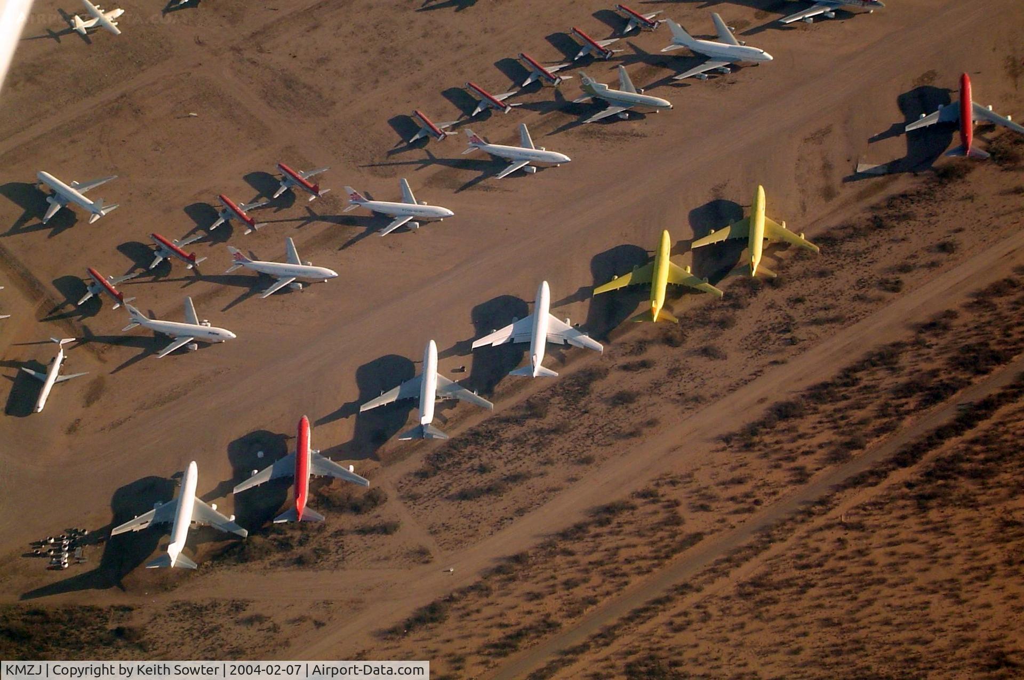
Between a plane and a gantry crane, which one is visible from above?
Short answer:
plane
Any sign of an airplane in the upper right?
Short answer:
Yes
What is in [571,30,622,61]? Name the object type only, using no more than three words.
airplane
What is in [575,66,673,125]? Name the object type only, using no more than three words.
airplane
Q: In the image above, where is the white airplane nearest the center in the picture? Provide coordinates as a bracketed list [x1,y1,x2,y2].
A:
[473,282,603,378]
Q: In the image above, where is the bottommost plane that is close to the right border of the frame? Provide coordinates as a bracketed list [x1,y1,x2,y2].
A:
[906,75,1024,156]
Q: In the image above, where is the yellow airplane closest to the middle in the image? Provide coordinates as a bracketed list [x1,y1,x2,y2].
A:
[595,231,723,324]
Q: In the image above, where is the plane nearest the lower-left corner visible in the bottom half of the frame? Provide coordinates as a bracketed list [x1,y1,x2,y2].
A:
[110,461,248,570]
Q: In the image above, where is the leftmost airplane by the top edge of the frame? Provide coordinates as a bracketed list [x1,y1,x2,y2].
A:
[72,0,126,35]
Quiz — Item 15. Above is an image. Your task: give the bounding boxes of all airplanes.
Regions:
[273,164,329,202]
[463,124,571,180]
[520,56,571,88]
[209,195,268,235]
[77,268,138,310]
[72,0,126,35]
[473,282,603,378]
[906,75,1024,156]
[233,417,369,524]
[122,295,236,359]
[360,340,493,440]
[226,237,339,299]
[571,30,622,61]
[466,84,521,117]
[595,231,723,324]
[110,461,248,570]
[149,234,206,270]
[37,172,118,223]
[614,4,668,35]
[662,13,773,82]
[692,188,819,277]
[575,66,673,125]
[775,0,885,24]
[345,178,456,237]
[21,339,89,414]
[408,109,459,144]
